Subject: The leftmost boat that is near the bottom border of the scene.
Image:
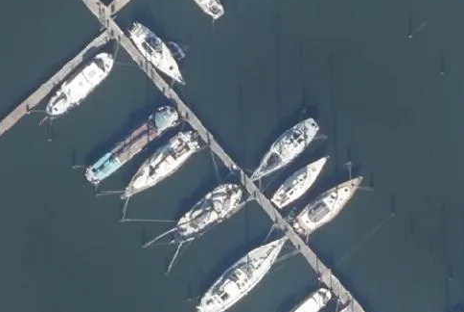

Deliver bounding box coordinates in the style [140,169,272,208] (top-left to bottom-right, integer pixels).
[197,237,289,312]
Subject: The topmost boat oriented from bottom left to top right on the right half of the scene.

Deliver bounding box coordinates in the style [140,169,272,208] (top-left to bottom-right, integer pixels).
[252,118,329,179]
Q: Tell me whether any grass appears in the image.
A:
No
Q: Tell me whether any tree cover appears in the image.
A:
No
